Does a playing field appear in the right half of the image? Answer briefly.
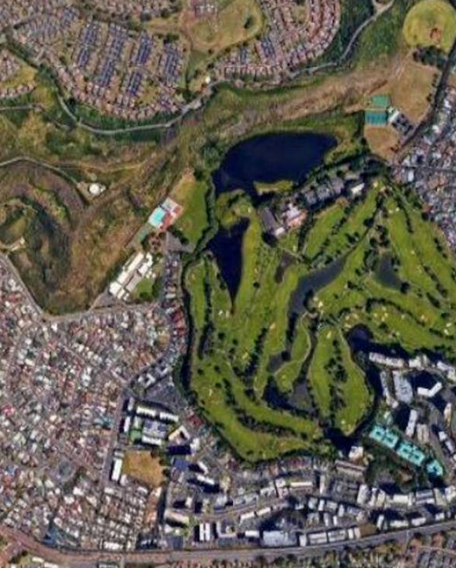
Yes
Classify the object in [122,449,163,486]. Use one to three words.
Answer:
sports field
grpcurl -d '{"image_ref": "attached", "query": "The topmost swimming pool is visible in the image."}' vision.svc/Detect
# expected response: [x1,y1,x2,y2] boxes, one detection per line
[148,207,166,225]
